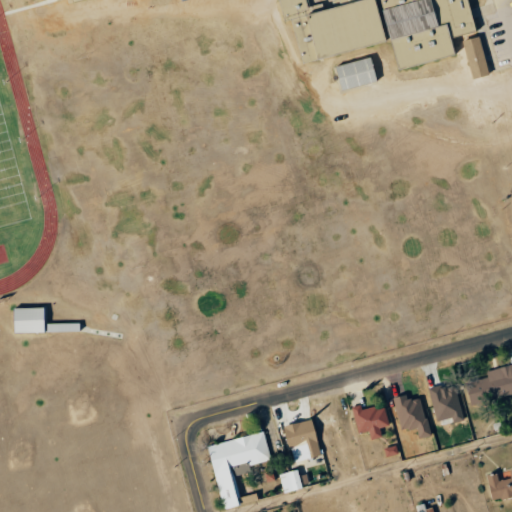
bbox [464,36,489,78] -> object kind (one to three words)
building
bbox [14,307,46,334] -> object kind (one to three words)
barn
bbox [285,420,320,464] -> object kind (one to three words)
house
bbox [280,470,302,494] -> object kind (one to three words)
shed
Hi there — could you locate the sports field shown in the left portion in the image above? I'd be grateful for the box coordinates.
[0,50,44,280]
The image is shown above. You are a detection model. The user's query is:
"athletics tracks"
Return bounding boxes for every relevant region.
[0,8,58,294]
